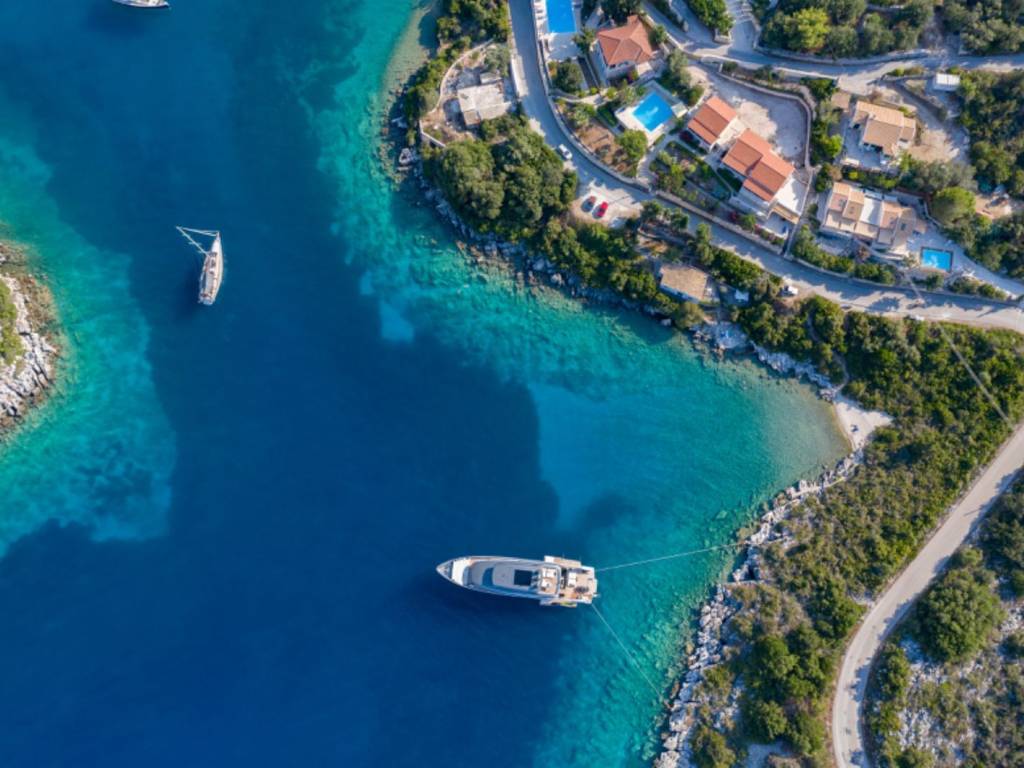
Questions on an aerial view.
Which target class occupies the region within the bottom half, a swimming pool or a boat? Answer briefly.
boat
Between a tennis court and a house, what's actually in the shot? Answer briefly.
house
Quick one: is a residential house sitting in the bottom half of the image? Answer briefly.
No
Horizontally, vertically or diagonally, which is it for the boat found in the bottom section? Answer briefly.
horizontally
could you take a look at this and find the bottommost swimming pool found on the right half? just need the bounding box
[915,244,957,278]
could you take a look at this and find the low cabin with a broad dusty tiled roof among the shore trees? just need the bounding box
[660,266,707,301]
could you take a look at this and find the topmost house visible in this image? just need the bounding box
[597,16,653,81]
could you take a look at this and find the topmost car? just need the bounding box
[558,144,572,161]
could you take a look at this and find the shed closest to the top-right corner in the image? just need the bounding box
[931,73,960,92]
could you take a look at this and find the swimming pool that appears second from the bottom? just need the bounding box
[614,80,687,149]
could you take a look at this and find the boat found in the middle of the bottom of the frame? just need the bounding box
[436,555,598,607]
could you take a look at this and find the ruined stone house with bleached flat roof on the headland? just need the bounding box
[458,73,511,128]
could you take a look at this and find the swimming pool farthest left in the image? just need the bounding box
[536,0,583,63]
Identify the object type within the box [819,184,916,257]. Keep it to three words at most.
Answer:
house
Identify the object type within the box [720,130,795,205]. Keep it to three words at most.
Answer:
house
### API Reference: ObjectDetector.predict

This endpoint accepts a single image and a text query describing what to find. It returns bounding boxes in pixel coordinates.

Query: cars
[597,202,608,219]
[909,312,924,322]
[558,144,572,161]
[782,285,800,296]
[586,194,597,211]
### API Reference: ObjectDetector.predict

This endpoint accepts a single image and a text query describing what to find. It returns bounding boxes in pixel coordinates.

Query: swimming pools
[536,0,583,63]
[915,244,957,278]
[614,80,687,149]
